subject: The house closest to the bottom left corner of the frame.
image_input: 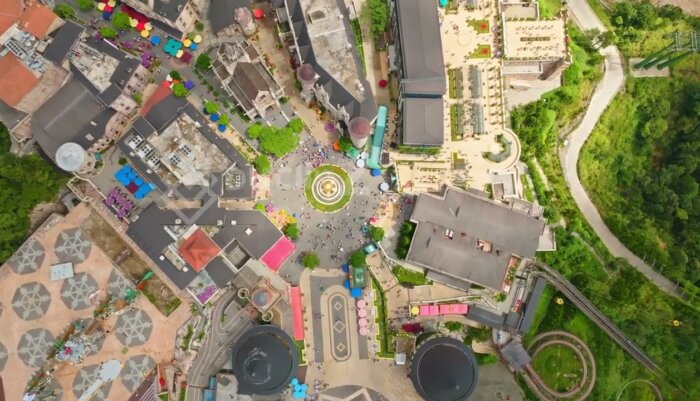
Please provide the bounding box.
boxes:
[120,365,165,401]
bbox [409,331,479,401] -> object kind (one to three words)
building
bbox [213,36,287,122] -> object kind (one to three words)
building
